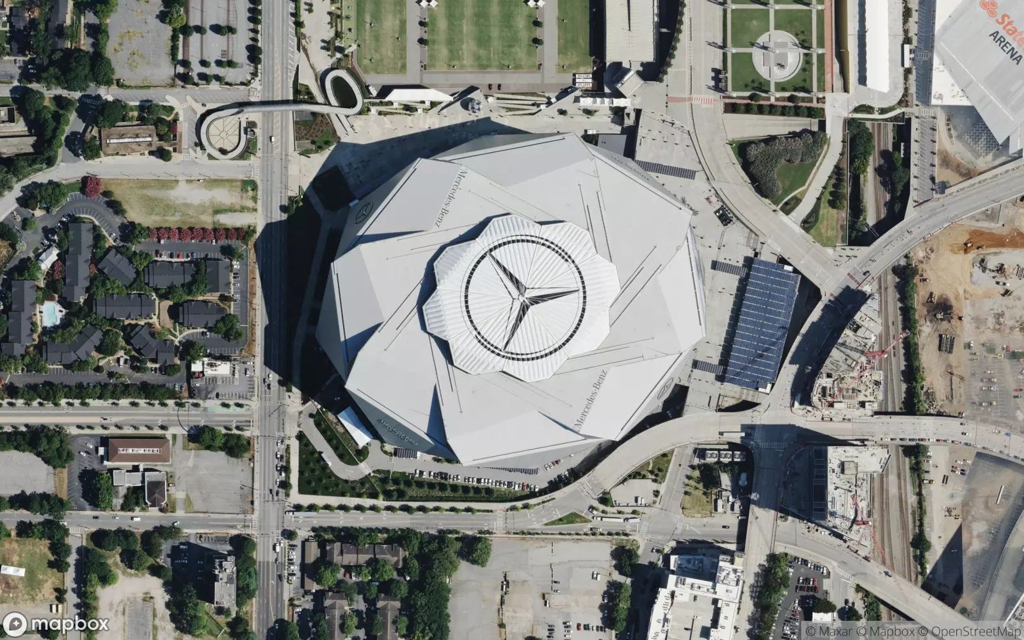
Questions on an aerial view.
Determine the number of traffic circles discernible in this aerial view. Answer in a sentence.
The photo contains no traffic circles.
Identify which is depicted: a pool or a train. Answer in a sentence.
It is a pool that can be seen here.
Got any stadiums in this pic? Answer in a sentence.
Yes, this view includes a stadium.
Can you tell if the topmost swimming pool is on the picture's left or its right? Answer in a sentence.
The topmost swimming pool is on the left side of the image.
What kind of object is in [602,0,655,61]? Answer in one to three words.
building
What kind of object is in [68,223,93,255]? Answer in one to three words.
building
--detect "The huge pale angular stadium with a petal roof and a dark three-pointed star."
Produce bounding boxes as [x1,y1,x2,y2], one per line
[315,133,705,471]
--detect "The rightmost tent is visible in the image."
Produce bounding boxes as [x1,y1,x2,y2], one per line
[864,0,888,93]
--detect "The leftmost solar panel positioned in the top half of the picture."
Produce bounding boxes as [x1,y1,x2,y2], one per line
[638,160,696,179]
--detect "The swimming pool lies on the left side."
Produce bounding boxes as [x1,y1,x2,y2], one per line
[39,301,66,327]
